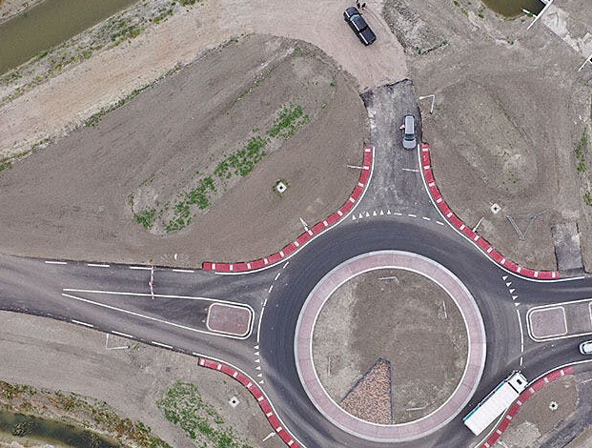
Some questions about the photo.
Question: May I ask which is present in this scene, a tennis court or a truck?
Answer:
truck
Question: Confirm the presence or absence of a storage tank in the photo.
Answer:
No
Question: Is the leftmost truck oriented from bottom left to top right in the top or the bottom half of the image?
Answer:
bottom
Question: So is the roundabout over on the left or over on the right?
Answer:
right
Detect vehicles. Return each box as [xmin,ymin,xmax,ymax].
[402,116,417,149]
[461,369,529,437]
[579,340,592,354]
[346,6,376,47]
